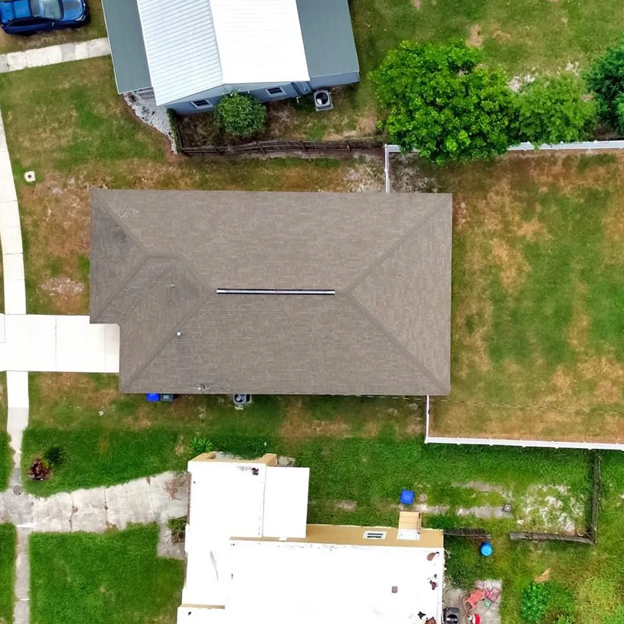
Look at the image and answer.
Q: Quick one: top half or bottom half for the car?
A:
top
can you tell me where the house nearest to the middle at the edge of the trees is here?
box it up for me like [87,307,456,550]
[89,187,453,397]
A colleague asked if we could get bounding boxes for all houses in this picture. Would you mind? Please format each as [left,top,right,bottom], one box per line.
[101,0,361,113]
[89,187,453,397]
[176,460,444,624]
